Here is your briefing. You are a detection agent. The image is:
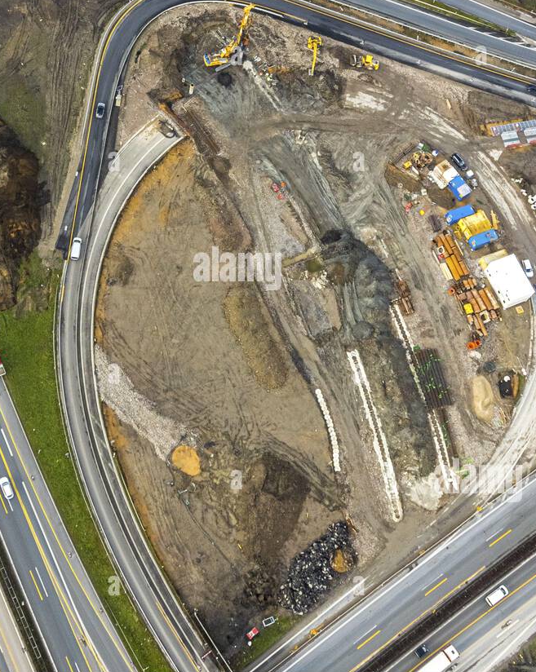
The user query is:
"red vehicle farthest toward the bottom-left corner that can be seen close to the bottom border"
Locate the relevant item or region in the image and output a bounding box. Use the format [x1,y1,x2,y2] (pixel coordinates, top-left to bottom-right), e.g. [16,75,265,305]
[244,626,260,641]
